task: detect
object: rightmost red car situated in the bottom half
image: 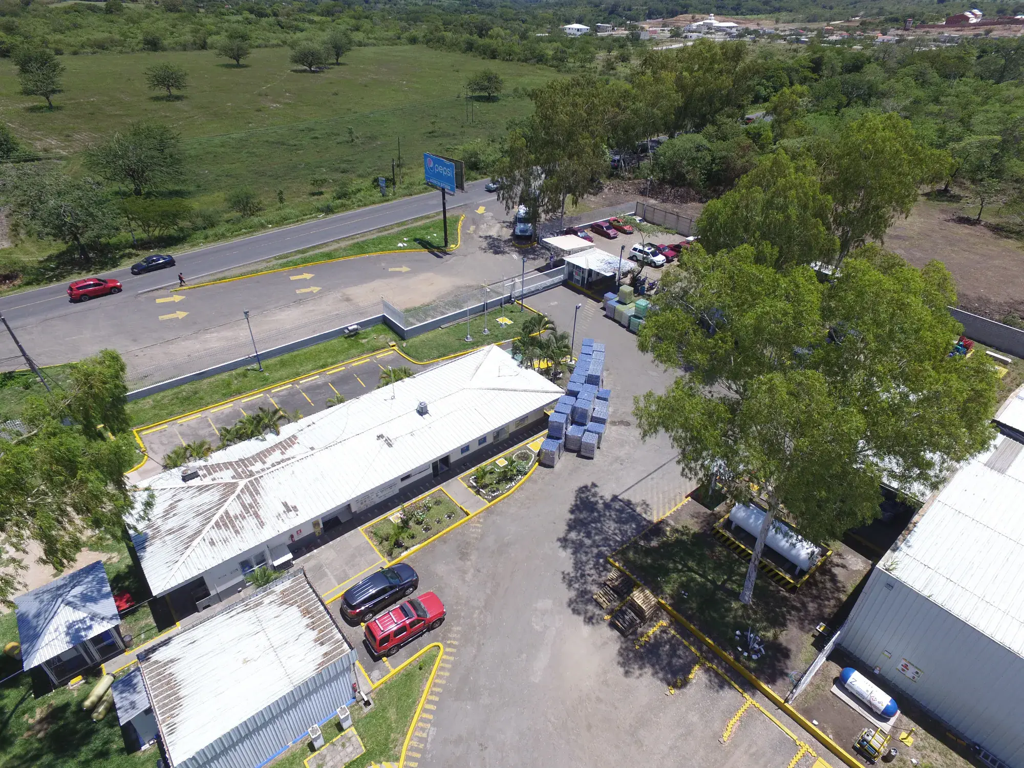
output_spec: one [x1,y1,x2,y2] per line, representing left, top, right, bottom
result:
[360,590,448,660]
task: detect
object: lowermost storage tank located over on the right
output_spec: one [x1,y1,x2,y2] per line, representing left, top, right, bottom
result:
[837,666,899,722]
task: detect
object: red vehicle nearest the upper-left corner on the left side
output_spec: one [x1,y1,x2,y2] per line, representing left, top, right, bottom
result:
[67,275,125,301]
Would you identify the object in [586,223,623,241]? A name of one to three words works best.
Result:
car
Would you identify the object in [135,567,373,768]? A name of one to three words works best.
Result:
shed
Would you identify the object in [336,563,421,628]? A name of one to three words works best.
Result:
car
